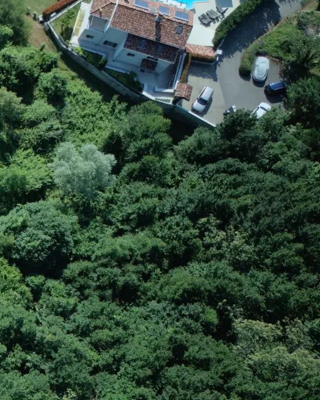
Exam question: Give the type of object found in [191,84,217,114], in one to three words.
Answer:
car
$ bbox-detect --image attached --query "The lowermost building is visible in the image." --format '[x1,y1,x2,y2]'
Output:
[168,86,192,109]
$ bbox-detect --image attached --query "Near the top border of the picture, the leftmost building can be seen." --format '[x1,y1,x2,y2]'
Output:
[78,0,194,80]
